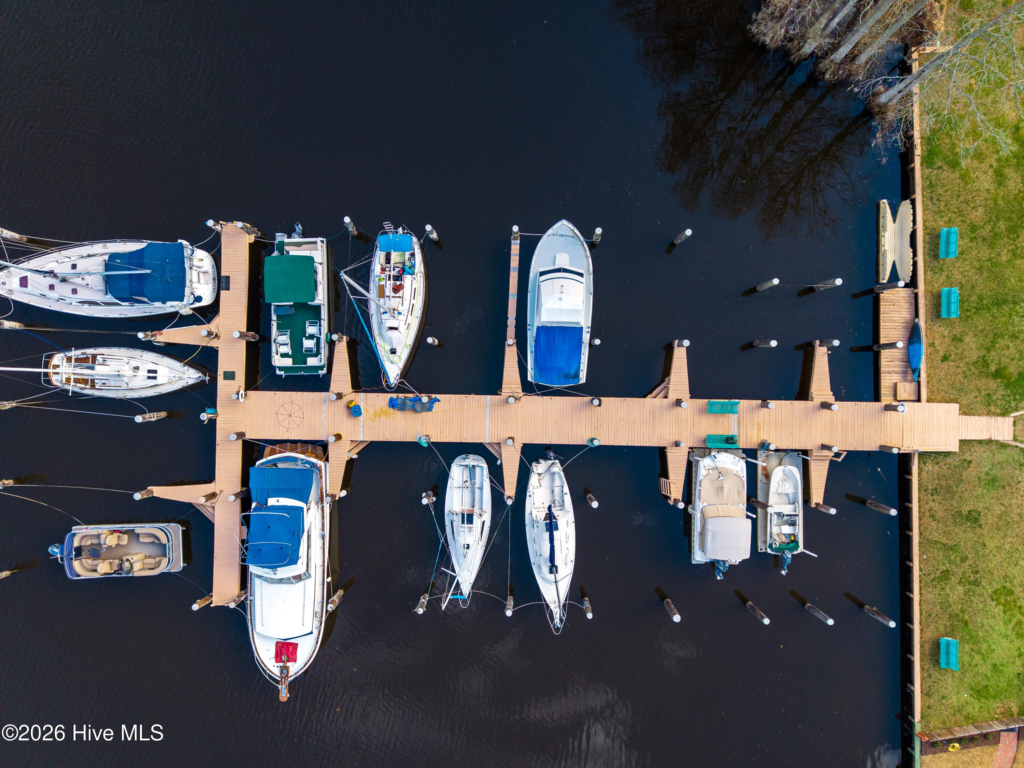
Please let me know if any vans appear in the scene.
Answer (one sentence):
No, no van can be seen from above.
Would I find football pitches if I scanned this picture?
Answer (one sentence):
No, the picture doesn't show any football pitch.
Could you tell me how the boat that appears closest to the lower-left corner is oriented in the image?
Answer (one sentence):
The boat that appears closest to the lower-left corner runs horizontally in the image.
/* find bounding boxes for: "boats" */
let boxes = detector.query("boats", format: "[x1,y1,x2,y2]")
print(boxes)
[0,348,209,398]
[692,450,751,585]
[338,222,425,391]
[765,465,803,575]
[265,222,331,378]
[44,522,187,578]
[527,218,594,386]
[0,230,219,318]
[524,444,576,634]
[440,453,492,612]
[233,443,333,701]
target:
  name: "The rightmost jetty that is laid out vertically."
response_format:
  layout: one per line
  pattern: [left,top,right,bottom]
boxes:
[877,289,918,401]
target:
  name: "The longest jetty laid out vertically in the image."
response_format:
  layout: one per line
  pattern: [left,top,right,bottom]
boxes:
[211,220,256,605]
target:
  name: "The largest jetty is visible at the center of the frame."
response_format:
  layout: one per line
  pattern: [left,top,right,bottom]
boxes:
[244,391,959,451]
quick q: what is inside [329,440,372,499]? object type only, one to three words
pier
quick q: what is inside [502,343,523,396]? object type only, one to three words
pier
